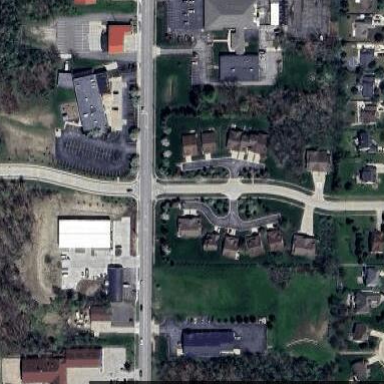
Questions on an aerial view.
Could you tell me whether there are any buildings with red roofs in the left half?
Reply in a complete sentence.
Yes, a building with a red roof can be seen in the left half.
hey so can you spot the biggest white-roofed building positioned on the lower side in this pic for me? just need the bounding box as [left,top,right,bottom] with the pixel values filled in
[60,219,111,252]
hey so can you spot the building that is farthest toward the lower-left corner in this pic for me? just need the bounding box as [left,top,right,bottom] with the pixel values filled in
[21,349,103,384]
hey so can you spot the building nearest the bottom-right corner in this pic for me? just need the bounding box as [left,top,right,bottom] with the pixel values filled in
[349,358,369,380]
